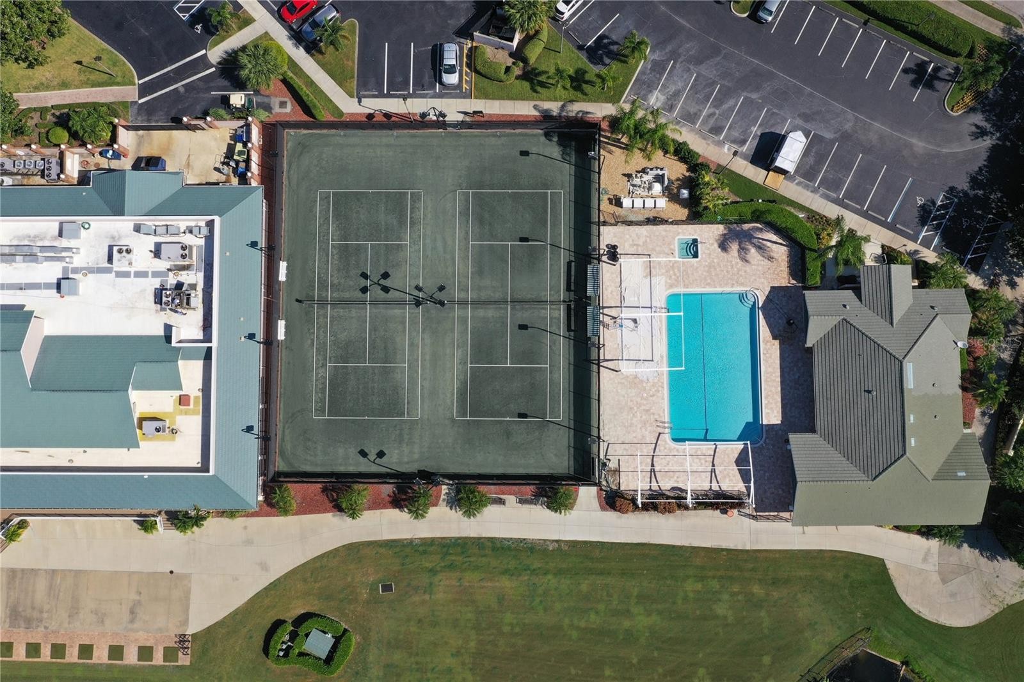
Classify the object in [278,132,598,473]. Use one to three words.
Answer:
tennis court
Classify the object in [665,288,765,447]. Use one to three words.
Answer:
swimming pool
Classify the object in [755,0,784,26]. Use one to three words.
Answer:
car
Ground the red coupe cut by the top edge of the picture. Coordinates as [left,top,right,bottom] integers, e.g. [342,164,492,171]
[283,0,327,24]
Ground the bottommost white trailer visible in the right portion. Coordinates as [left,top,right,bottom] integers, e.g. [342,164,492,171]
[765,126,807,189]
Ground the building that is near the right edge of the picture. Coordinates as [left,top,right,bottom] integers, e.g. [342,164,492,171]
[788,264,991,527]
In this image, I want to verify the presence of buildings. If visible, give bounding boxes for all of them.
[304,627,337,660]
[0,171,270,528]
[788,264,991,527]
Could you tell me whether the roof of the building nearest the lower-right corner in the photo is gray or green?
gray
